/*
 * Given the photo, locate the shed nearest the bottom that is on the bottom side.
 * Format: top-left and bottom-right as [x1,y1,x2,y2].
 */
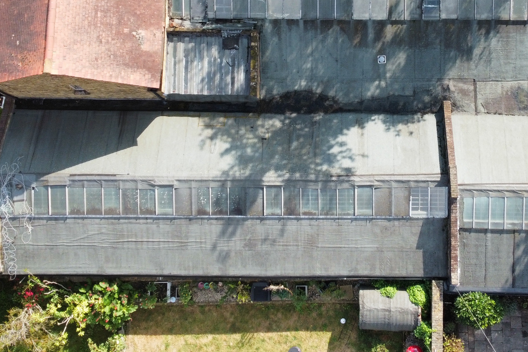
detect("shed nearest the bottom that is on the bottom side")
[359,288,423,331]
